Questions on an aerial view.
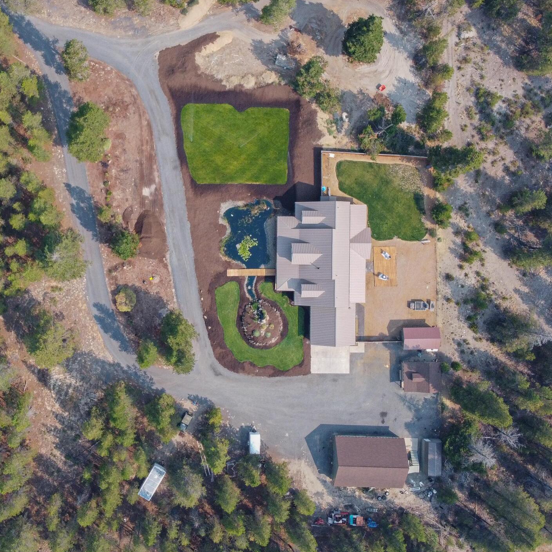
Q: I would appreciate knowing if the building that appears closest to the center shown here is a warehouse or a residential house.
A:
residential house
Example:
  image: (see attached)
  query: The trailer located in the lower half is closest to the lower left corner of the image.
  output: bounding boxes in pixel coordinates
[135,457,169,504]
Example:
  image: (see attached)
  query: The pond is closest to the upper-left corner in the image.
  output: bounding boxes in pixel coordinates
[225,199,272,267]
